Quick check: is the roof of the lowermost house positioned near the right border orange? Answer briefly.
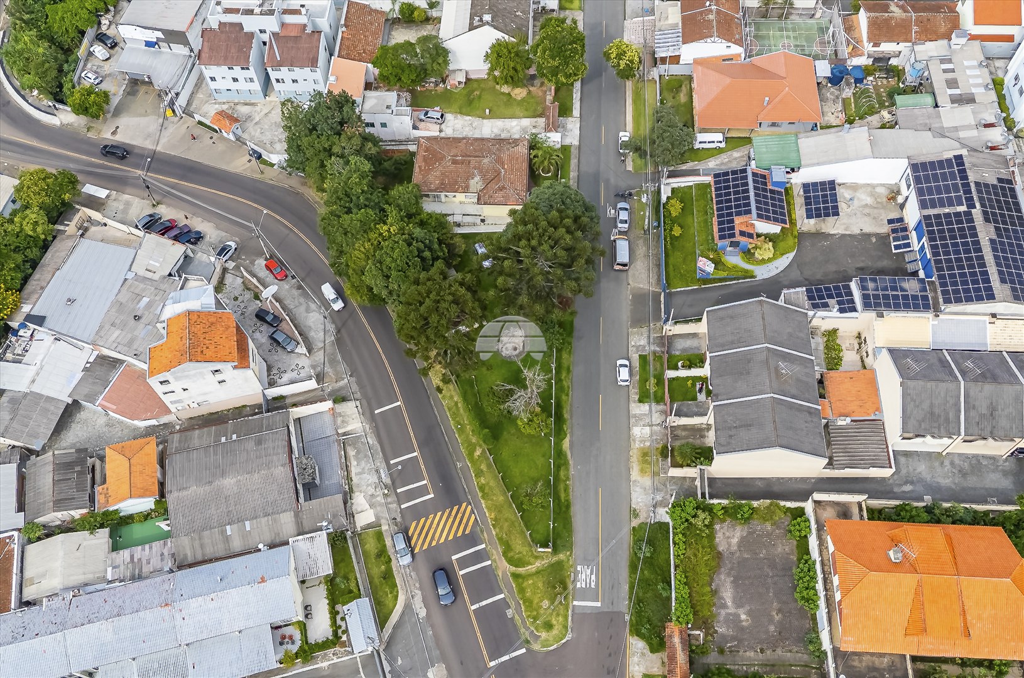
Yes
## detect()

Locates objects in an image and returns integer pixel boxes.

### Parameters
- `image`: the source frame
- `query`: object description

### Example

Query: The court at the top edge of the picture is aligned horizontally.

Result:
[741,19,838,60]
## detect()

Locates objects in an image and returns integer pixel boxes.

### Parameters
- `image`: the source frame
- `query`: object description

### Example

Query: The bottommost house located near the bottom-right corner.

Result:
[826,520,1024,663]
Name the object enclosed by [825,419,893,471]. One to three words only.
building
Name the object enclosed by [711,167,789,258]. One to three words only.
house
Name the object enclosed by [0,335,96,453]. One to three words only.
building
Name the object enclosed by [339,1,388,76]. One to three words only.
house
